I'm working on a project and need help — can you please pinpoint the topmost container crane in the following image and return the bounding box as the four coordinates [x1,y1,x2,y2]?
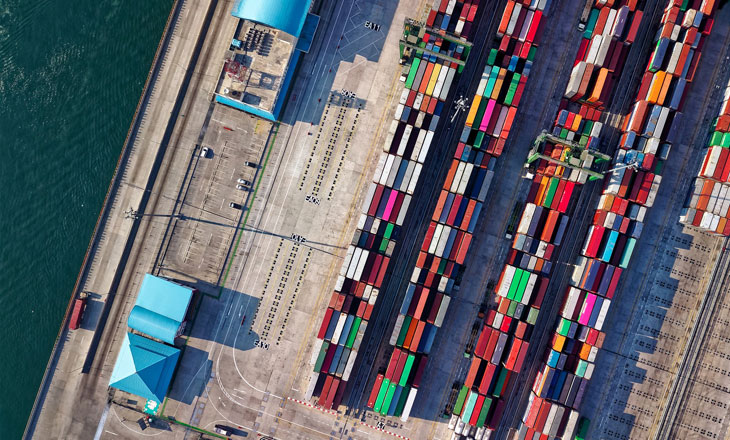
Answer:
[395,16,478,85]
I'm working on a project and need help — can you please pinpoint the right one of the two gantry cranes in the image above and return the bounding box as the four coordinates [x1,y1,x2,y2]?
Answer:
[518,130,617,187]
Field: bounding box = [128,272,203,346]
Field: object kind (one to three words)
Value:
building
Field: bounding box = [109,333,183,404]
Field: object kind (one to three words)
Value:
building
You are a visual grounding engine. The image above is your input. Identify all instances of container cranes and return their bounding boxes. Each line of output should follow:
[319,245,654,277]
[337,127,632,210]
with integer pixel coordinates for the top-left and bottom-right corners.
[518,130,617,187]
[395,16,478,85]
